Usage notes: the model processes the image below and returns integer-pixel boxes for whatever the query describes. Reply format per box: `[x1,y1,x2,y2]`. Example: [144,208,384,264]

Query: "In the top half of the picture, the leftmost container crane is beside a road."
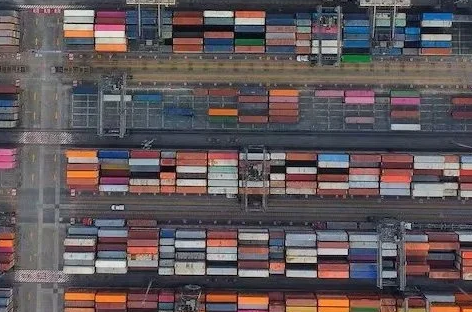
[97,71,135,138]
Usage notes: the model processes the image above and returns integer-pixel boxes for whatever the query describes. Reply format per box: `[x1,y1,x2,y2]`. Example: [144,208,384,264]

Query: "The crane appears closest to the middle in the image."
[236,140,267,212]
